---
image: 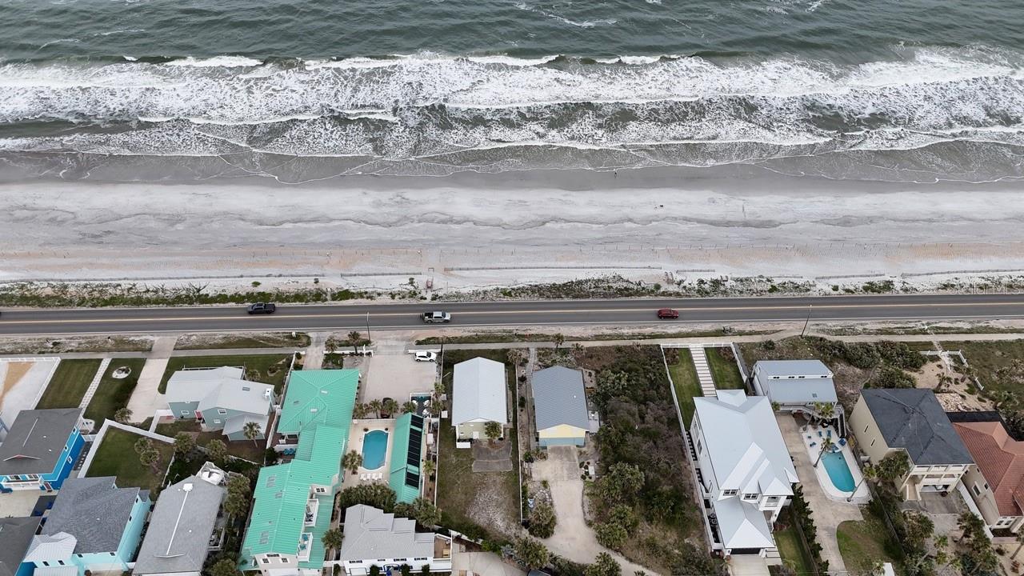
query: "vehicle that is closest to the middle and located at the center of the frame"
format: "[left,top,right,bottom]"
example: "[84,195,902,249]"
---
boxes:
[421,311,450,325]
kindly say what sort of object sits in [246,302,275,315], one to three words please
vehicle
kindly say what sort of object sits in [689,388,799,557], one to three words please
house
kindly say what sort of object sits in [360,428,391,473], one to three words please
swimming pool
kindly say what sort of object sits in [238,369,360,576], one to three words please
building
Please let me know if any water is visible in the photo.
Yes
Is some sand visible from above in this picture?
Yes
